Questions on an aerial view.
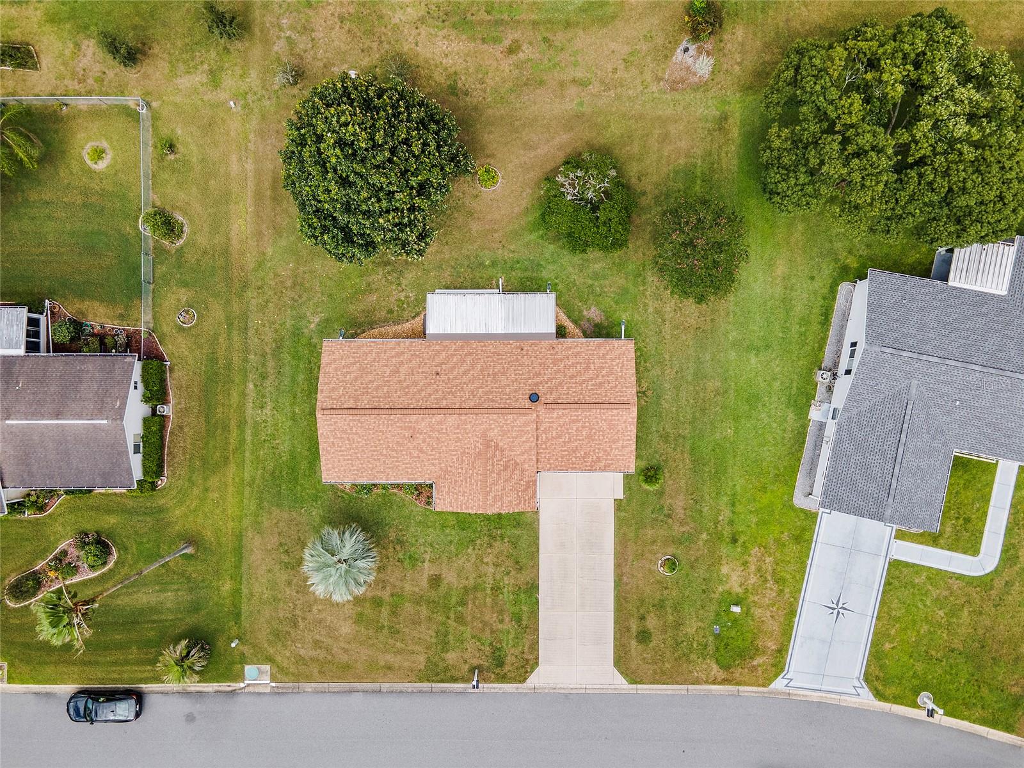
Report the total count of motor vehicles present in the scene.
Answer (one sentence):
There is 1 motor vehicle in the image.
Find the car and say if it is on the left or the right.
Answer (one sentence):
The car sits on the left side.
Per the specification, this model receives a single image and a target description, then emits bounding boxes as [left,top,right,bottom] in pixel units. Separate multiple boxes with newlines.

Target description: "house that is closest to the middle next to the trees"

[317,280,637,514]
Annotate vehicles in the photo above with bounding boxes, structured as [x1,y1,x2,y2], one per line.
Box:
[68,687,141,725]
